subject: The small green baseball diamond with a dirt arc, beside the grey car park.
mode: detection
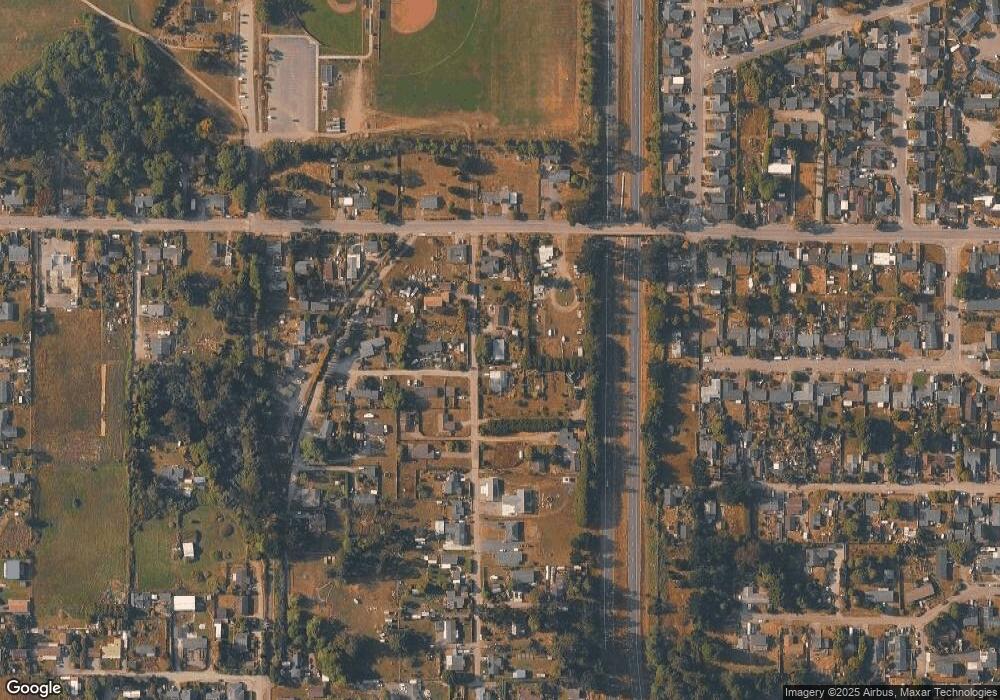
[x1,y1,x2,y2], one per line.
[301,0,367,54]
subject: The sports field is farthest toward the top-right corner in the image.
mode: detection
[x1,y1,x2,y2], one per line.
[501,0,575,128]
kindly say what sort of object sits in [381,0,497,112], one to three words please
baseball field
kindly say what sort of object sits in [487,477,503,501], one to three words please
house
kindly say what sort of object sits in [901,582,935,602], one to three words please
house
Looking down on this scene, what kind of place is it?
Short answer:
residential area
